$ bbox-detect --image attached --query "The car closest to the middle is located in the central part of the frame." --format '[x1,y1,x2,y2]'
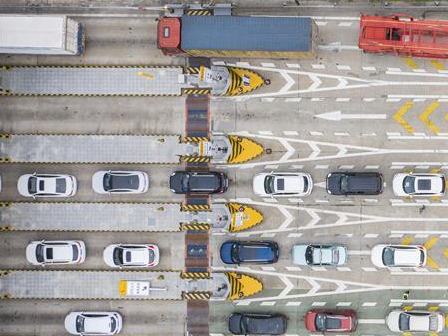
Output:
[170,168,227,196]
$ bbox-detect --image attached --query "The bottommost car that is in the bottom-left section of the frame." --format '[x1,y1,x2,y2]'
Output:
[66,310,122,336]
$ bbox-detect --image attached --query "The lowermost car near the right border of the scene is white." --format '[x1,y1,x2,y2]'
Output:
[387,308,445,335]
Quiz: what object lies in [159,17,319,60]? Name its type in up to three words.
truck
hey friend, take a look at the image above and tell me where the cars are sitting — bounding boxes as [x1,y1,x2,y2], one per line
[293,242,347,268]
[170,168,227,196]
[220,238,278,267]
[229,311,286,336]
[254,170,312,198]
[27,239,87,267]
[393,170,445,197]
[372,241,427,269]
[20,172,77,199]
[387,308,445,335]
[105,241,159,268]
[327,169,383,197]
[94,168,148,195]
[306,308,358,335]
[66,310,122,336]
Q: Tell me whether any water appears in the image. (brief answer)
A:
No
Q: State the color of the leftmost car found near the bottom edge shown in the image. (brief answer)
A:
white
